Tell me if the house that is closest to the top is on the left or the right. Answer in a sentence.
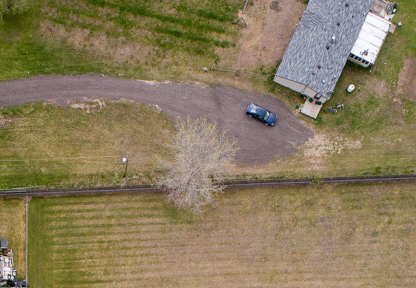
It is on the right.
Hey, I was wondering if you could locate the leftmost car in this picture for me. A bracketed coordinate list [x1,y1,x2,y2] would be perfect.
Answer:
[246,99,280,125]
